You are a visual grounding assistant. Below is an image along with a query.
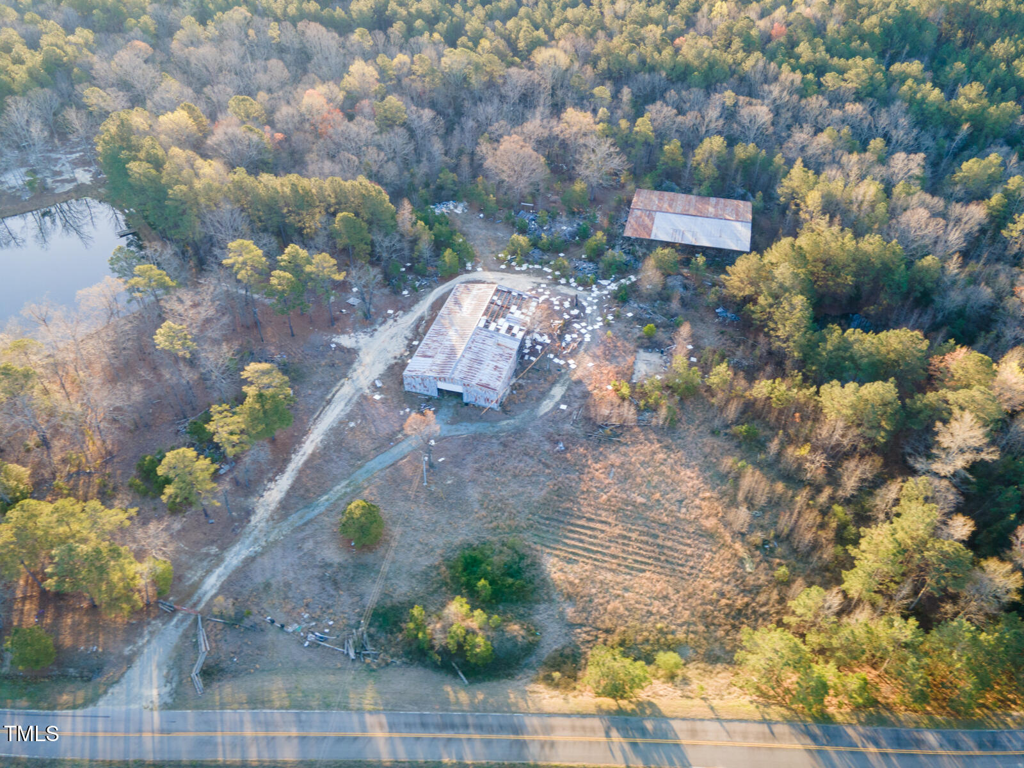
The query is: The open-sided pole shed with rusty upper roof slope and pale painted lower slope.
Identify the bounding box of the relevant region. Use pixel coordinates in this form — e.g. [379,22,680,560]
[623,188,751,262]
